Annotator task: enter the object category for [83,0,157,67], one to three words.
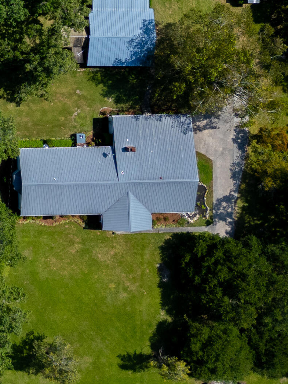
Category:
barn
